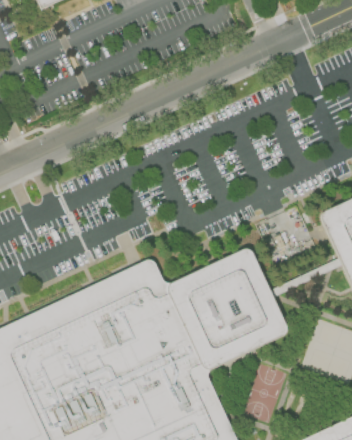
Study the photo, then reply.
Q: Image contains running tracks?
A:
No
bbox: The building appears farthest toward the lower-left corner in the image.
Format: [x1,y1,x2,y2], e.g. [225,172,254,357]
[0,248,288,440]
